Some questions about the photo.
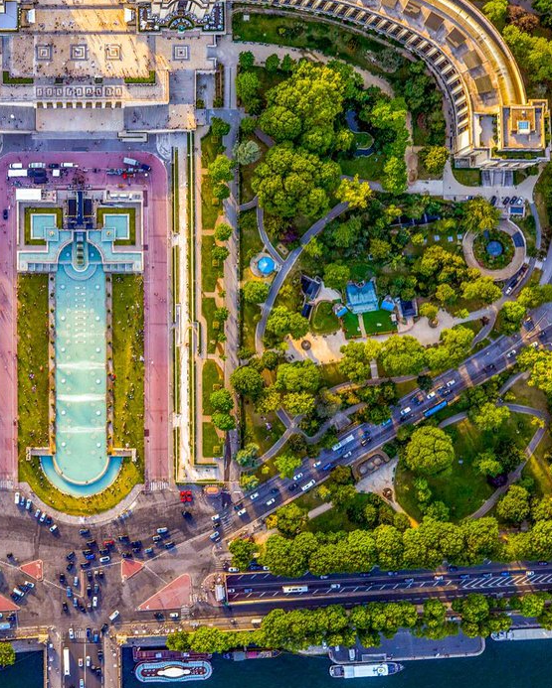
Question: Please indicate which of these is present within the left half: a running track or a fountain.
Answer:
fountain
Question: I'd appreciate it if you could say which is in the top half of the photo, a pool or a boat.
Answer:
pool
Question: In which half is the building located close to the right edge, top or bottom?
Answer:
top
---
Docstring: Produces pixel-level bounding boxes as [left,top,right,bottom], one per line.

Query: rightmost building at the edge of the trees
[452,102,547,175]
